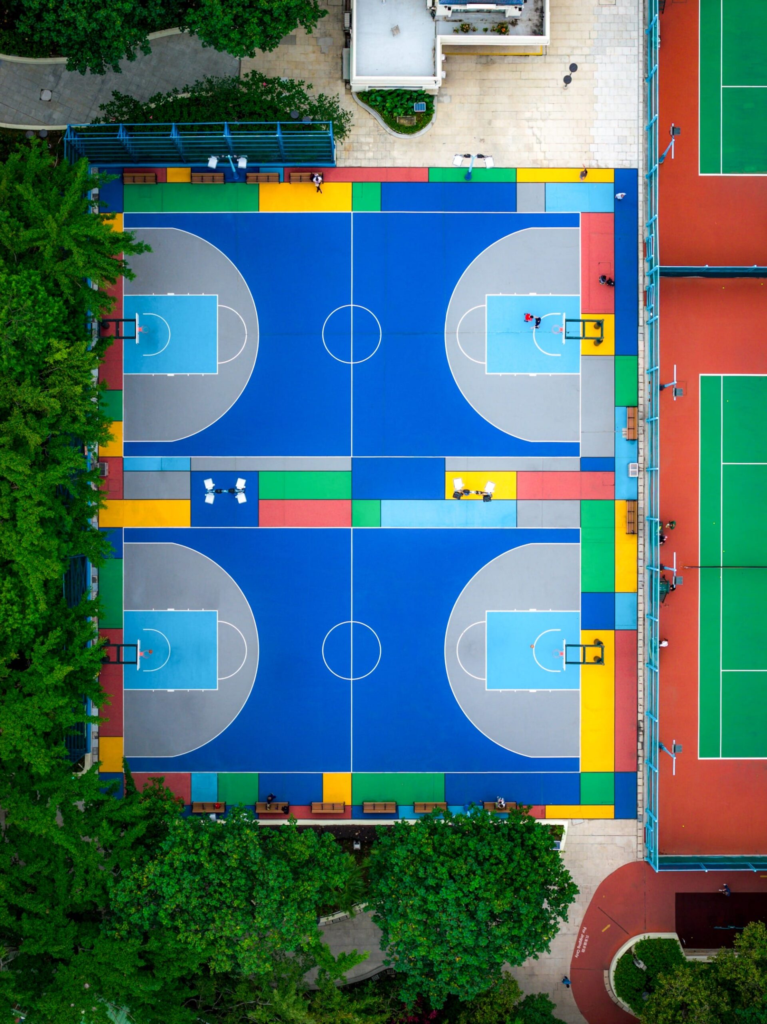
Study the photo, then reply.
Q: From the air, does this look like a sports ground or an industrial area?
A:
sports ground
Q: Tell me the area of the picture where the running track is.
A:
bottom right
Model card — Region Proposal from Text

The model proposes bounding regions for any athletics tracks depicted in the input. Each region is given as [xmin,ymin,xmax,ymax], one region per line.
[570,858,767,1024]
